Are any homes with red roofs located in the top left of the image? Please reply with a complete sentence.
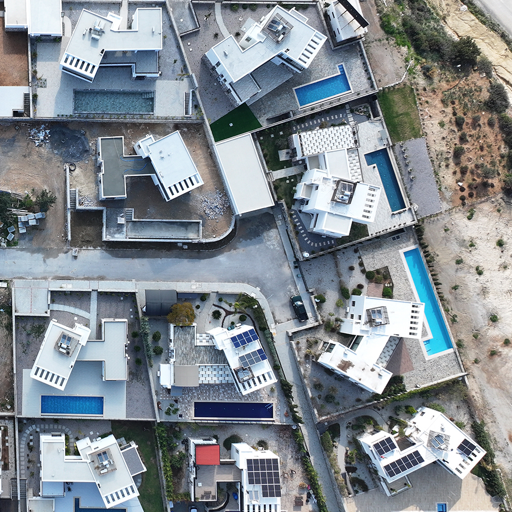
No, no home with a red roof appears in the top left of the image.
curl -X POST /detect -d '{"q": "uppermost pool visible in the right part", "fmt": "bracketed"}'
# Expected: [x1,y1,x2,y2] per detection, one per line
[292,62,354,109]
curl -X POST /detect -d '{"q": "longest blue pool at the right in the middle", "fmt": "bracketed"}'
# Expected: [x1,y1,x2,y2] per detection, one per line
[400,245,454,359]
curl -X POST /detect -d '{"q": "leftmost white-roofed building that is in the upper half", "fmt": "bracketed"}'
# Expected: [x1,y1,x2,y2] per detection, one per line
[4,0,28,33]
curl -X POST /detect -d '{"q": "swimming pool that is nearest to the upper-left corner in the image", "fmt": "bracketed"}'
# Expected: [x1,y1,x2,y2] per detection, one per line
[73,88,156,115]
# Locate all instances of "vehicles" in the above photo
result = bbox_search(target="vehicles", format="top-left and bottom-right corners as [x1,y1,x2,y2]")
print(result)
[292,294,310,323]
[188,506,199,512]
